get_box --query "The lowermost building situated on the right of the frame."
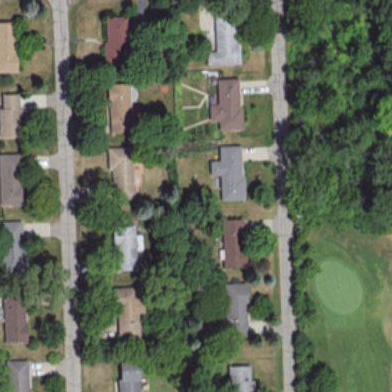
[230,365,254,392]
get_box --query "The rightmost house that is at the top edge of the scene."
[208,14,243,66]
